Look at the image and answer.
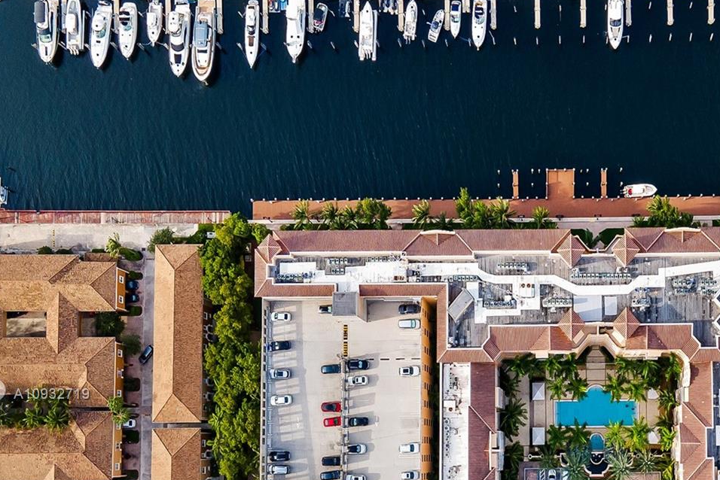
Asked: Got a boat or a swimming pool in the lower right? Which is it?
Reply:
swimming pool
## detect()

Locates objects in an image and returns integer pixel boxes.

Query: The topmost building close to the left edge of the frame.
[0,254,131,407]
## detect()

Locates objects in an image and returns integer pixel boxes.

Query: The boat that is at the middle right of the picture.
[622,185,656,198]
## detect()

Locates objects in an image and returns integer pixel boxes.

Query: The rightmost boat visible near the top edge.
[607,0,624,51]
